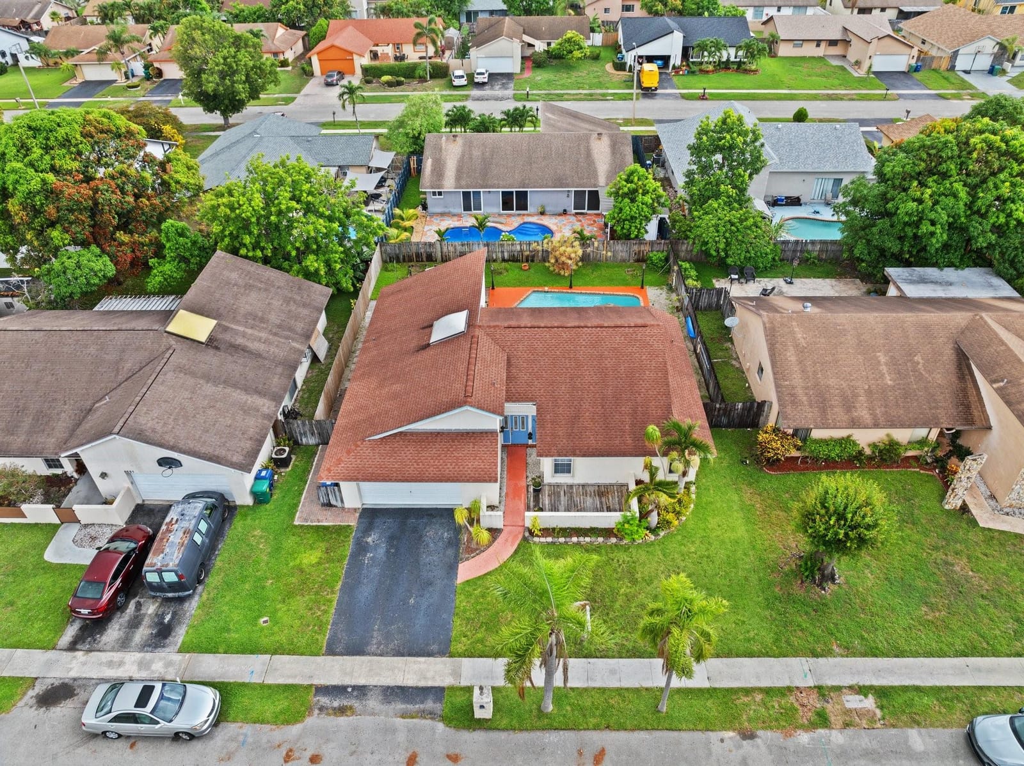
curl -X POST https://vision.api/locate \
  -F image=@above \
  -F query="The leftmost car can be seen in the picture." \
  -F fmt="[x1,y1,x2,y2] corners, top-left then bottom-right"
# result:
[66,526,149,623]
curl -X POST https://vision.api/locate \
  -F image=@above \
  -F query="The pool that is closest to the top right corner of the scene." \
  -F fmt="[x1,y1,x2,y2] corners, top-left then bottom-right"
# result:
[781,215,871,238]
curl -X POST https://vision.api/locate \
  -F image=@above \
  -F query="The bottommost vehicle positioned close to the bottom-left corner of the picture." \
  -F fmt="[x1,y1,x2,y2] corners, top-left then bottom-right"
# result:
[80,674,225,741]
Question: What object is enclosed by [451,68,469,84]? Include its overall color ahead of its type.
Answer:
white car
